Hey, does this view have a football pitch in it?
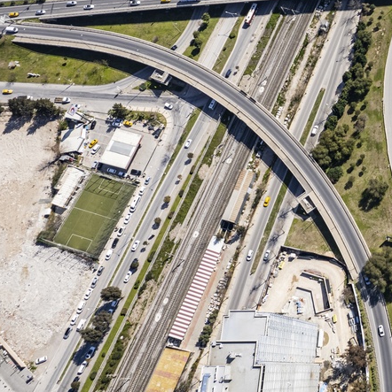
Yes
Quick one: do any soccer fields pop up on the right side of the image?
No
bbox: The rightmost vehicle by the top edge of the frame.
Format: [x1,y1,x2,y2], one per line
[244,2,261,27]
